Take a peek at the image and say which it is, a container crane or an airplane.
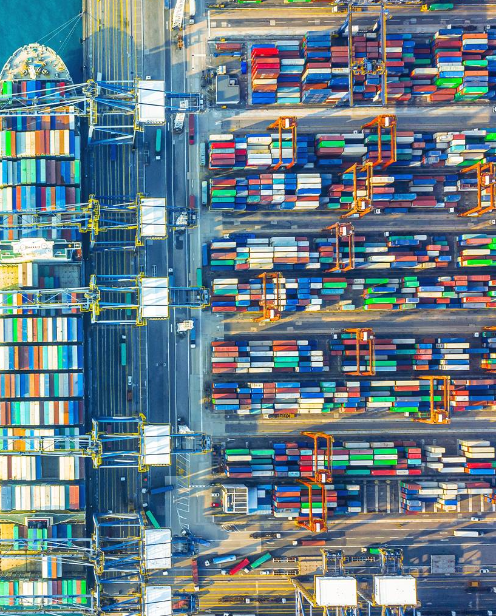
container crane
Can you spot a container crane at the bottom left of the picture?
Yes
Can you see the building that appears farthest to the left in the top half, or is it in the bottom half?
top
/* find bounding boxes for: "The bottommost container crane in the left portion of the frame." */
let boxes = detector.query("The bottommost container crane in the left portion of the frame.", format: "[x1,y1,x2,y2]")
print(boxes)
[0,561,215,616]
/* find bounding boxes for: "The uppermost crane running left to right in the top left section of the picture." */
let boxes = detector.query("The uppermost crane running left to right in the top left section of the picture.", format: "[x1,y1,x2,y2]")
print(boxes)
[0,77,208,162]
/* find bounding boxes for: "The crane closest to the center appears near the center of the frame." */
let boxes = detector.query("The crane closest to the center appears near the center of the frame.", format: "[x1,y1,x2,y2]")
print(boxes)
[251,271,282,325]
